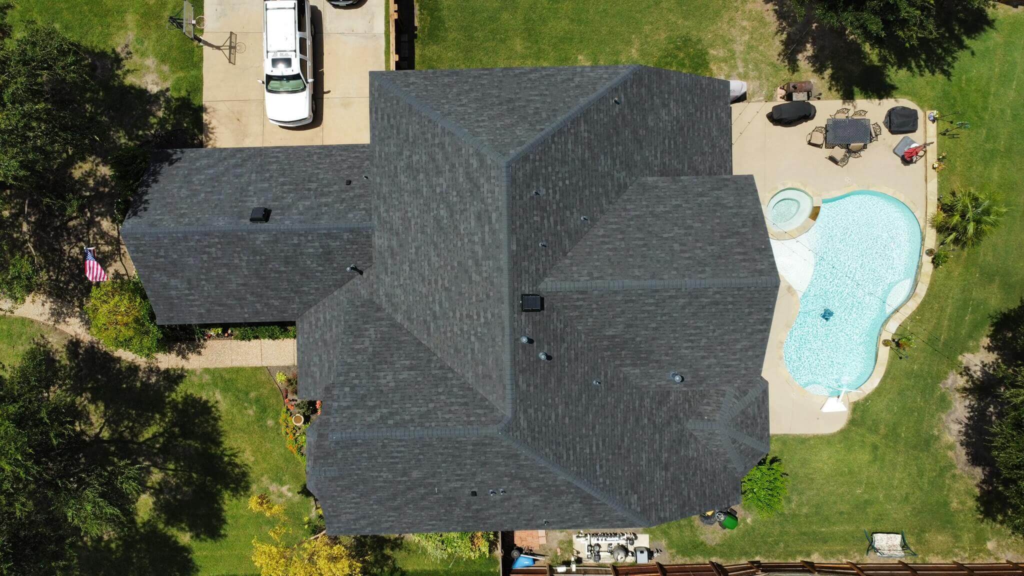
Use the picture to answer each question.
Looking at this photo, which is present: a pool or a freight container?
pool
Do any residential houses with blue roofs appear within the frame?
No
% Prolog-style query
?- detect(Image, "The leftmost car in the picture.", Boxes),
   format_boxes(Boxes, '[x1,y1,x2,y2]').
[259,0,317,127]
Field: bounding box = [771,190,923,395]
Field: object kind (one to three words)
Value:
swimming pool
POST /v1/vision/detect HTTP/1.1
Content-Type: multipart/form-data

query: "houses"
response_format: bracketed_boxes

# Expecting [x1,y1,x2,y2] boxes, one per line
[124,64,780,534]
